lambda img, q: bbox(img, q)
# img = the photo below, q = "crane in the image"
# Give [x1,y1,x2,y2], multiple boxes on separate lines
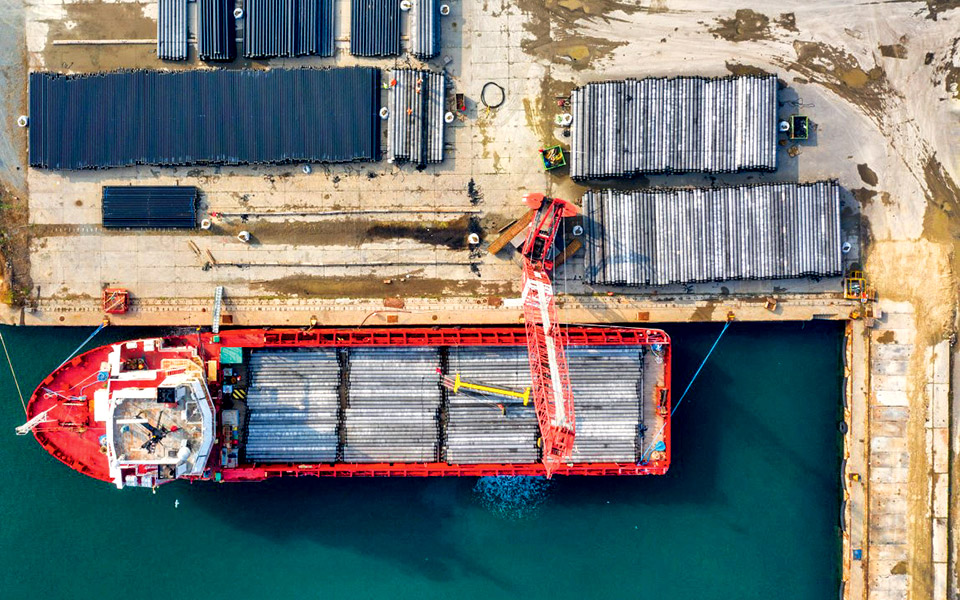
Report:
[495,195,581,479]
